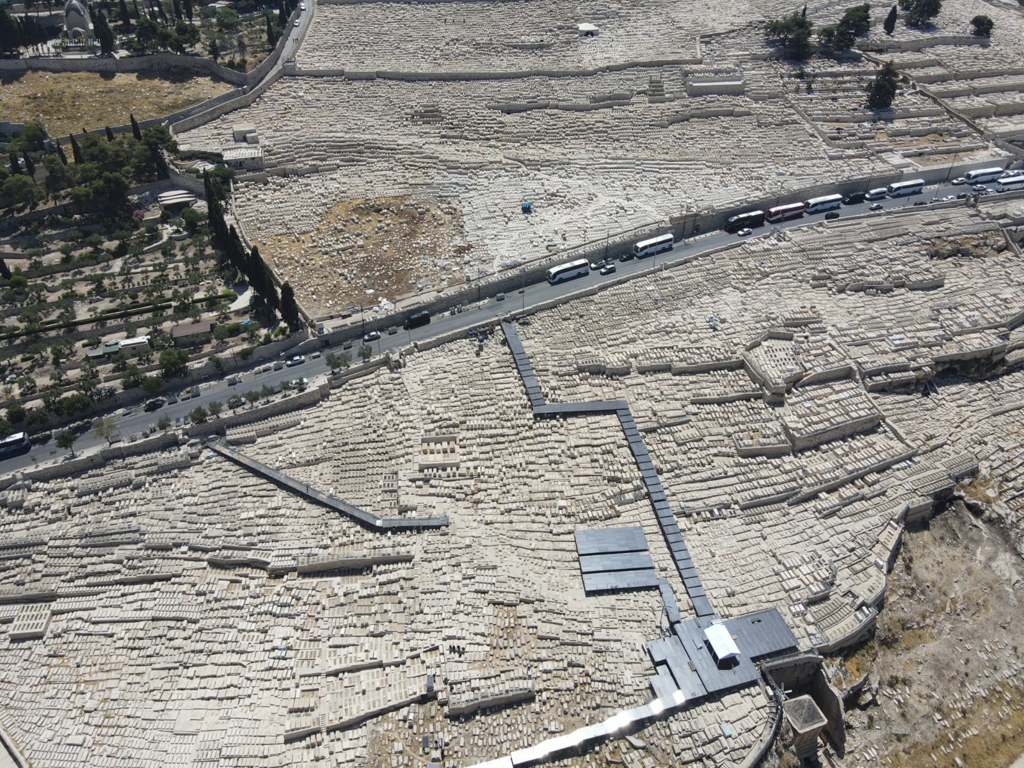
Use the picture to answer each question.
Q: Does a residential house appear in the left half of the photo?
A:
Yes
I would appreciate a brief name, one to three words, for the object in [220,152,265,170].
house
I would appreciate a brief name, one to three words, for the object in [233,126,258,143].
house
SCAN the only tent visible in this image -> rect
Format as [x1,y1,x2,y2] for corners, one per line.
[702,625,741,667]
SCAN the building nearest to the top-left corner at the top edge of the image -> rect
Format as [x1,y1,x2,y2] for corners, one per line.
[60,3,91,54]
